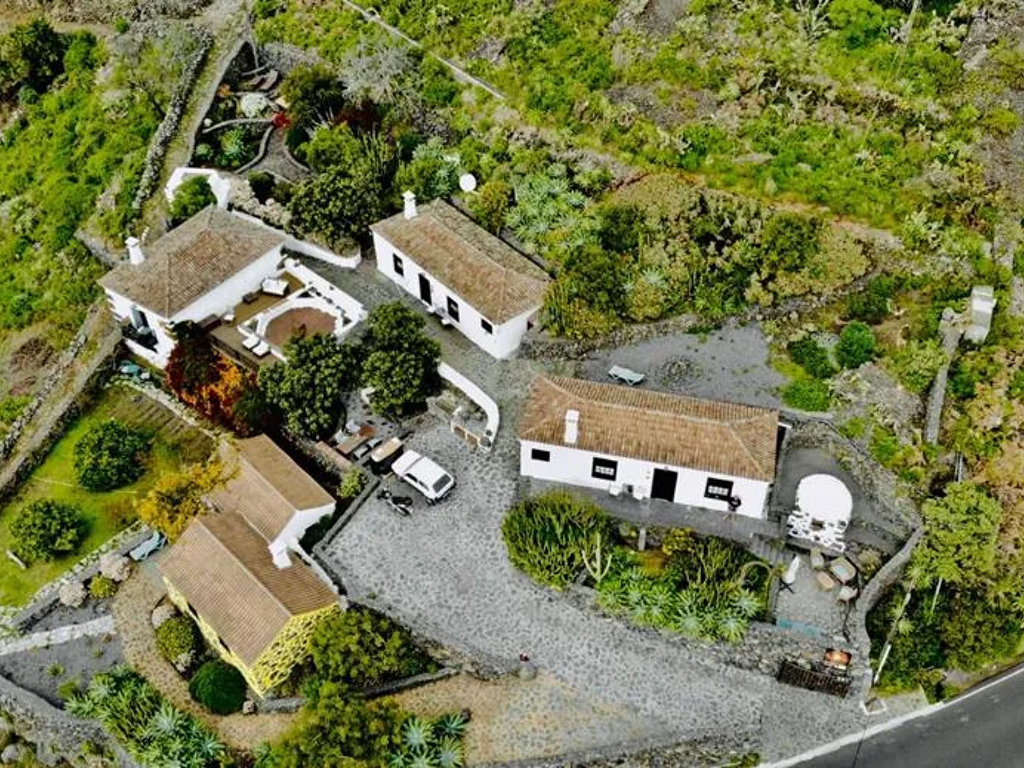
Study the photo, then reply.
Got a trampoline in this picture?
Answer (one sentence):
No, the frame has no trampoline in it.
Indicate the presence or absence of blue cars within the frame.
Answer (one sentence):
No, no blue car can be seen from above.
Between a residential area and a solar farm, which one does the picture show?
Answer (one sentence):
The area seen from above is a residential area.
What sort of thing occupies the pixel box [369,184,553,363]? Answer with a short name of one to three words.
house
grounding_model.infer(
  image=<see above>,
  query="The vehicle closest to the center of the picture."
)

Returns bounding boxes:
[390,450,457,504]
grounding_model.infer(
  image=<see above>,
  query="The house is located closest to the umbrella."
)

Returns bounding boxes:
[518,372,781,514]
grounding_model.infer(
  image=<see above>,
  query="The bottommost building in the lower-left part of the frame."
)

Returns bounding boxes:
[157,511,355,691]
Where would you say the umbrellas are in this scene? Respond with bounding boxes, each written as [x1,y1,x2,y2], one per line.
[776,559,798,601]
